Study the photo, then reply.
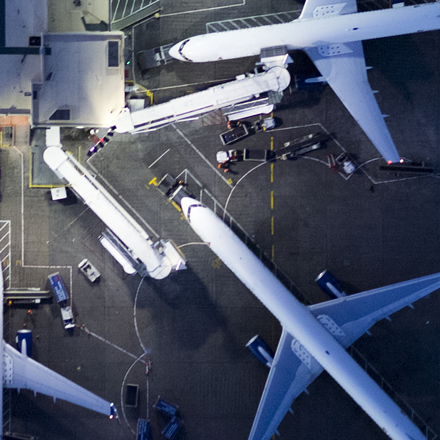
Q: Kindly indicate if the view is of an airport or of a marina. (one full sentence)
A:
This looks like an airport.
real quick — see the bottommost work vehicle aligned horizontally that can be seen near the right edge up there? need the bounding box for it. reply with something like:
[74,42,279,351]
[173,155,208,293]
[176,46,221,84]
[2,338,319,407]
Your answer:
[381,158,433,174]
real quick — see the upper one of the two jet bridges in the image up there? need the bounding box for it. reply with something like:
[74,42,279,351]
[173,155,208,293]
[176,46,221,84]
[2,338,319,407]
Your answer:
[116,54,297,139]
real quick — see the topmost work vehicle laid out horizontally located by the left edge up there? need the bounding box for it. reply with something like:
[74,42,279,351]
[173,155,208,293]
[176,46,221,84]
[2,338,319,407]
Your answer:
[4,288,54,302]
